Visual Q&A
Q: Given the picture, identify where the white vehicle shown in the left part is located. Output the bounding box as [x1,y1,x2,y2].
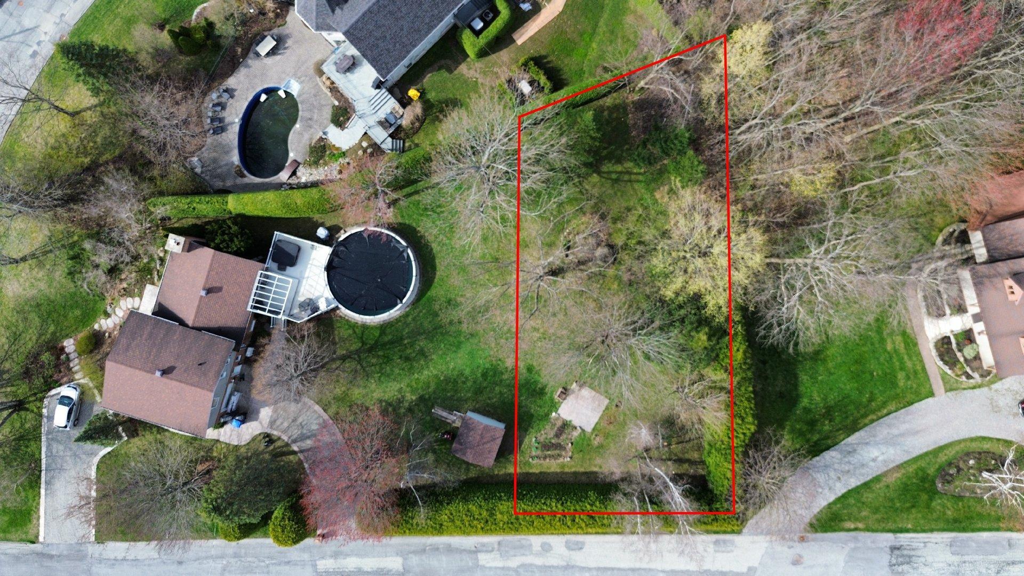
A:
[48,385,81,431]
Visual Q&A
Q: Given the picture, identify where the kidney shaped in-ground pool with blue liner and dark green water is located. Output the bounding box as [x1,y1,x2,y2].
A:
[235,75,304,180]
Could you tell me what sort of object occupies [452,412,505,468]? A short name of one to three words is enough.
shed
